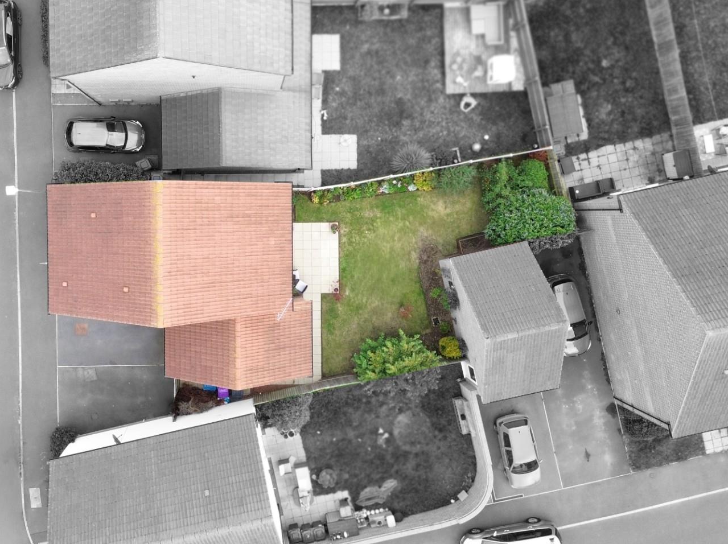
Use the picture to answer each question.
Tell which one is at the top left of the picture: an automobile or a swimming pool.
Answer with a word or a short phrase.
automobile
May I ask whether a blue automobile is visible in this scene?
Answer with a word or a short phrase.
No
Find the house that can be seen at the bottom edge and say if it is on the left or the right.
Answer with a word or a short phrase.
left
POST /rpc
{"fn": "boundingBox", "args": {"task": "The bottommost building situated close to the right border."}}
[575,164,728,434]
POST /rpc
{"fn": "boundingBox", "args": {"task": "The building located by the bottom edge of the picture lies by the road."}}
[48,399,282,544]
